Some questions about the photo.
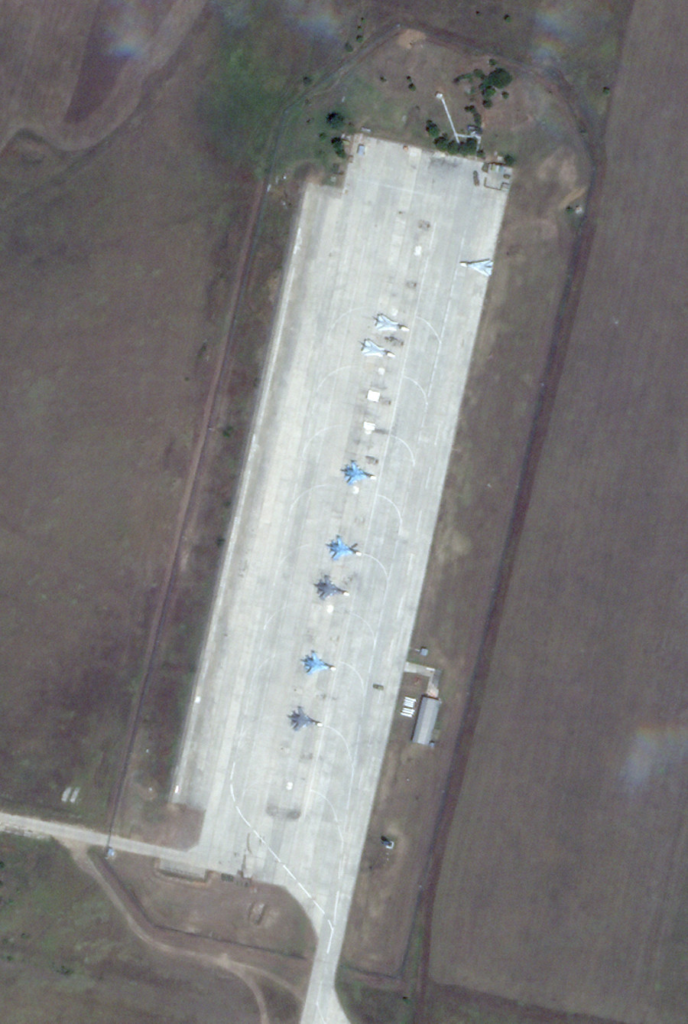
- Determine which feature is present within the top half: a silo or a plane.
plane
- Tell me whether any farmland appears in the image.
Yes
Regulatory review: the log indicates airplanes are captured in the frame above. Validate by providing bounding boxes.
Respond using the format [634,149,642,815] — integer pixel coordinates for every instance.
[340,460,377,485]
[375,316,410,332]
[286,708,324,732]
[325,536,362,561]
[460,260,495,276]
[360,341,396,357]
[300,652,337,676]
[313,577,350,601]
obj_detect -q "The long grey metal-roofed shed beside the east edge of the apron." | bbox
[413,697,440,745]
